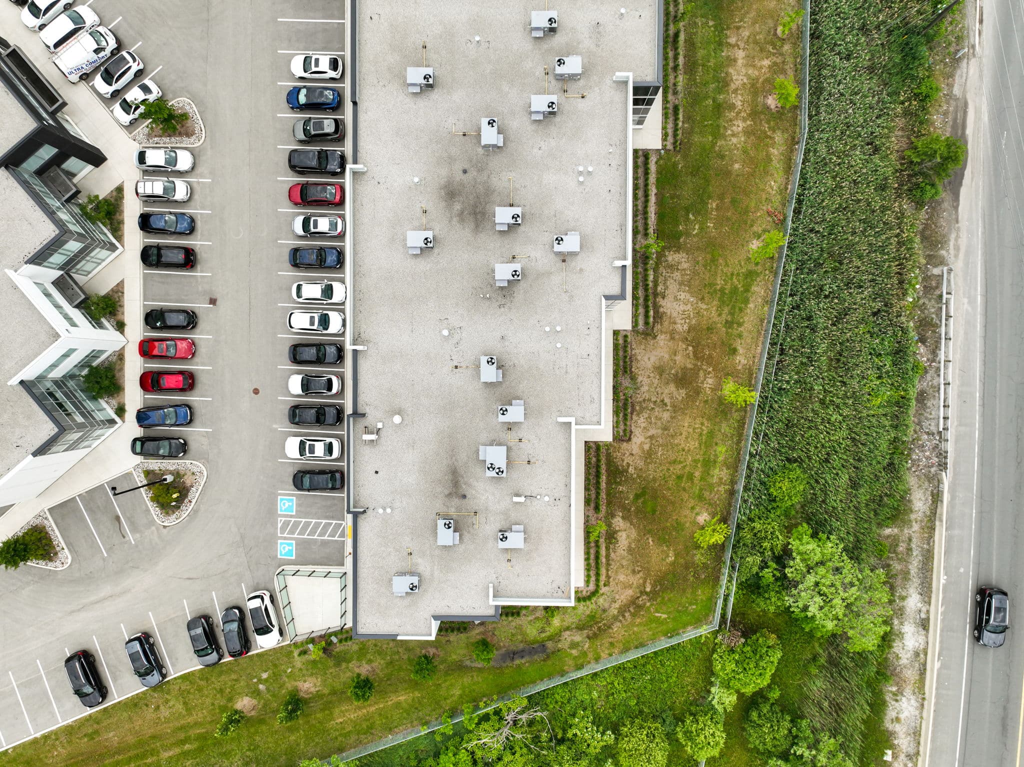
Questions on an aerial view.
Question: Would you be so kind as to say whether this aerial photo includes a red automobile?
Yes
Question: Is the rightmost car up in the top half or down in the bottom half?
bottom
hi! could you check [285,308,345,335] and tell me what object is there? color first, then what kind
white car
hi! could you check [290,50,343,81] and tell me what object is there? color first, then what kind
white car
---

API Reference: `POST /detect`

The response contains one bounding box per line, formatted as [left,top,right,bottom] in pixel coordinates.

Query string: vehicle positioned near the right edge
[977,589,1012,646]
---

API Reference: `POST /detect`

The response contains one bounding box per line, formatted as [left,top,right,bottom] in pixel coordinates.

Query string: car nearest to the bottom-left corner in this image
[64,651,106,709]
